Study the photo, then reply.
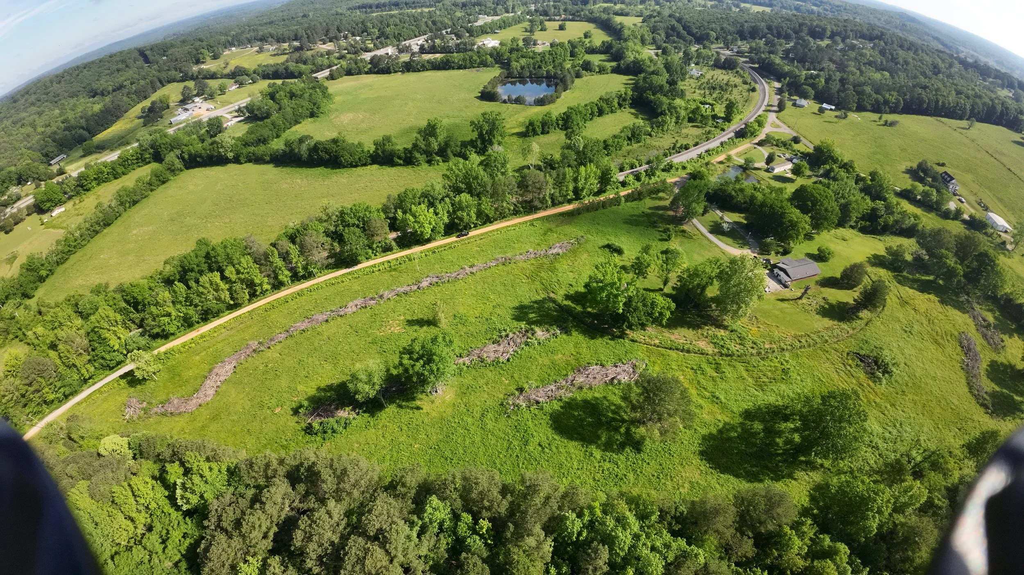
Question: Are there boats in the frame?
No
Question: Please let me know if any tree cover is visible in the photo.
Yes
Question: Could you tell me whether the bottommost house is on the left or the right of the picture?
right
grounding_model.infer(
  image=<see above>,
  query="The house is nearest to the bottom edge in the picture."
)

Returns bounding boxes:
[772,250,821,282]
